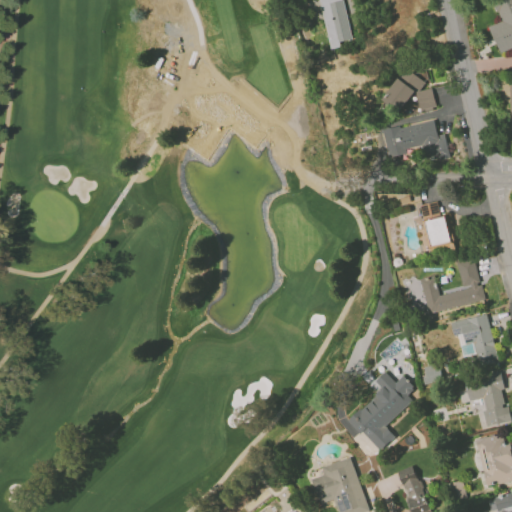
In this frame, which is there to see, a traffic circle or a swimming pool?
swimming pool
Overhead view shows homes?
Yes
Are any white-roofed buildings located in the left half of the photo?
No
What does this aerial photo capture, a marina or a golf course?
golf course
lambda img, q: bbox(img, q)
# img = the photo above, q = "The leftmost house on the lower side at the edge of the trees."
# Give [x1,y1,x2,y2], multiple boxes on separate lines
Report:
[312,458,370,512]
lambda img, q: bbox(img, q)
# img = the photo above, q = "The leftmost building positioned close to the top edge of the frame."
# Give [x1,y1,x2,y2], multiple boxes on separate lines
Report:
[324,0,353,49]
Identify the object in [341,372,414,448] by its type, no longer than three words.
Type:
house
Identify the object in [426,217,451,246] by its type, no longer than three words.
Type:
building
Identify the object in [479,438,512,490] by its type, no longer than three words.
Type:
house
